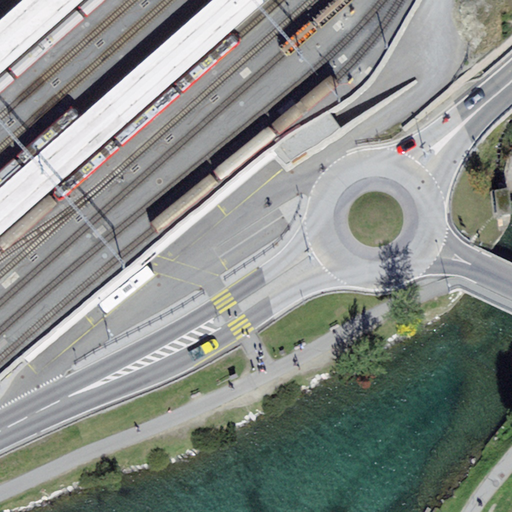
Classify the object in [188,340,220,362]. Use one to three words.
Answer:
truck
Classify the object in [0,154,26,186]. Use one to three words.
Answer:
rail car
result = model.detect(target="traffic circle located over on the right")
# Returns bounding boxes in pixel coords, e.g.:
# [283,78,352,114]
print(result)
[240,108,474,314]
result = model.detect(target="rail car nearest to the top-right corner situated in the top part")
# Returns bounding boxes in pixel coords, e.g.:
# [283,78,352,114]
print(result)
[312,0,352,28]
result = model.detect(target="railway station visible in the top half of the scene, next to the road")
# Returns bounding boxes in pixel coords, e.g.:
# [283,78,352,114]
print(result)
[0,0,415,380]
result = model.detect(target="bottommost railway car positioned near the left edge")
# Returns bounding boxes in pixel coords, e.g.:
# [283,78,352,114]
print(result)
[0,192,61,248]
